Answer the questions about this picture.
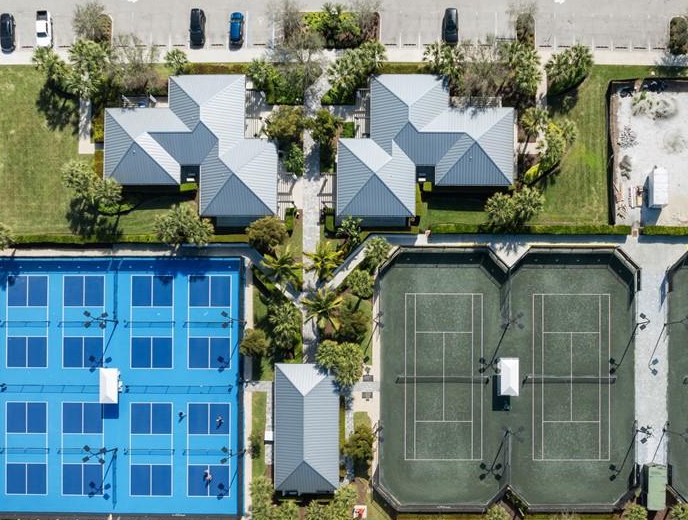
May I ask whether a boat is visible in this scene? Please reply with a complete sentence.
No, I find no boat anywhere in the image.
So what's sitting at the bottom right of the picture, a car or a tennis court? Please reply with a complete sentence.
Visible at the bottom right of the picture is a tennis court.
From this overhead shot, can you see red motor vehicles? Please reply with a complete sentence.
No, there isn't any red motor vehicle down there.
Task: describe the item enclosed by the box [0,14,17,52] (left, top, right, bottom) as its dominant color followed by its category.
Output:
black car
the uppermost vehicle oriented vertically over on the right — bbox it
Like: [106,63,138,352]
[442,7,460,46]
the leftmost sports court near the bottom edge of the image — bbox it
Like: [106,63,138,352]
[0,385,56,516]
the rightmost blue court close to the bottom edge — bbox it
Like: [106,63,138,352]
[181,385,244,516]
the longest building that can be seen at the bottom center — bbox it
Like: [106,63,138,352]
[275,363,339,491]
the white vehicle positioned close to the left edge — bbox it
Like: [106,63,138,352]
[33,8,53,48]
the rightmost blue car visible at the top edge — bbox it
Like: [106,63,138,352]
[227,12,245,46]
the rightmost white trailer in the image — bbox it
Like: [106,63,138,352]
[647,164,668,207]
